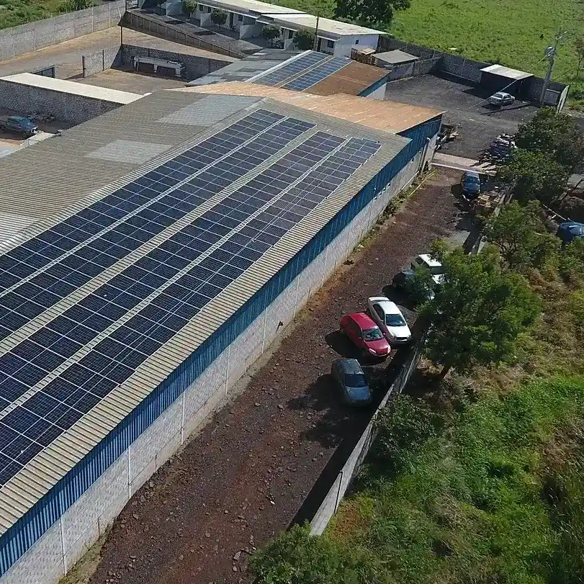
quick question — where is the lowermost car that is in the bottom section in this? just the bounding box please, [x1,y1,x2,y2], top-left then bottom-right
[331,358,378,414]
